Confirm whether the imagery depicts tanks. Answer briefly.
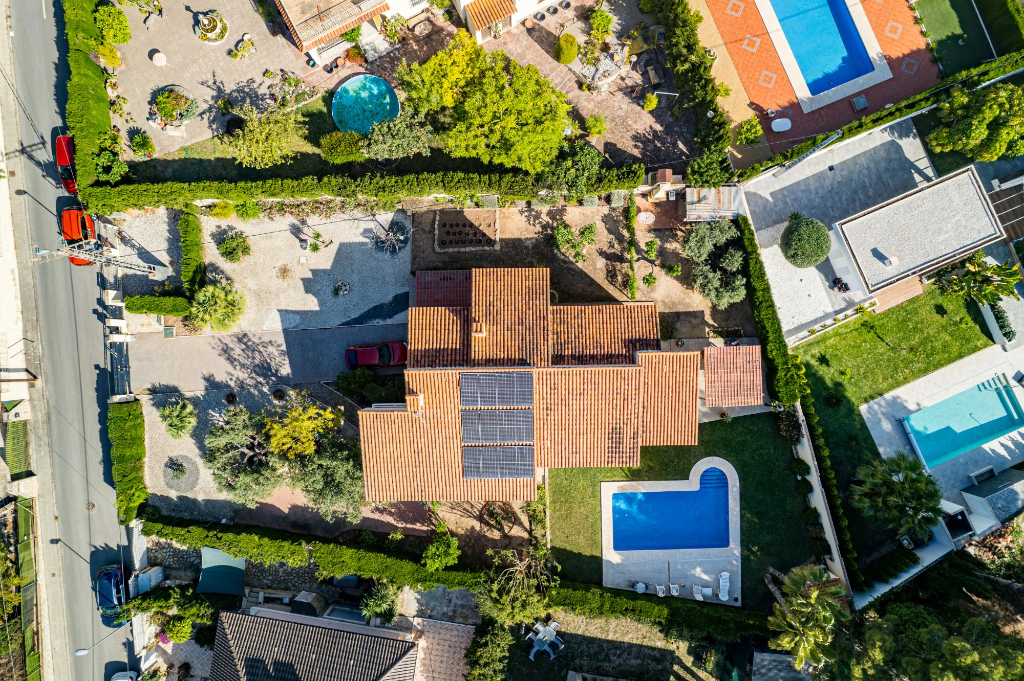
No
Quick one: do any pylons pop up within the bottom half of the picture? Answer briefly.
No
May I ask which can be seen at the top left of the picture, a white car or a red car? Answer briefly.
red car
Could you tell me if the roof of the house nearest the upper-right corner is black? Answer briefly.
No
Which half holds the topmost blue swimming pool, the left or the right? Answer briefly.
right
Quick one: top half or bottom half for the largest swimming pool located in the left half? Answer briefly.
top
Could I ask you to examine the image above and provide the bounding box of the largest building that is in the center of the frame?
[357,267,702,502]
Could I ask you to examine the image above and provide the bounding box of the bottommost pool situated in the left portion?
[331,70,399,143]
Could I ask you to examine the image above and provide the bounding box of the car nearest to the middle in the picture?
[346,340,406,370]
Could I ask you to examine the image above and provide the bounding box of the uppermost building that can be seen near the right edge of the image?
[815,165,1024,298]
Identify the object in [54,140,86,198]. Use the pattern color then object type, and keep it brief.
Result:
red car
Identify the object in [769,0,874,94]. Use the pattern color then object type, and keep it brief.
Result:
blue swimming pool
